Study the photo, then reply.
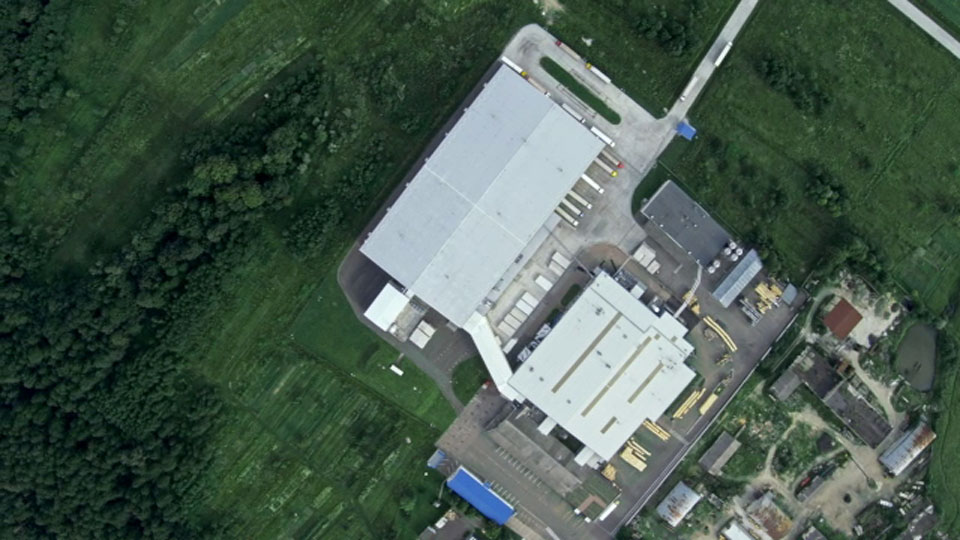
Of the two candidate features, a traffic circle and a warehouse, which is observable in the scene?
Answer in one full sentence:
There is a warehouse in the scene.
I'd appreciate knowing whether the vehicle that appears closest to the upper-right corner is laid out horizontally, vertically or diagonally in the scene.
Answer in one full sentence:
Seen from above, the vehicle that appears closest to the upper-right corner lies diagonally.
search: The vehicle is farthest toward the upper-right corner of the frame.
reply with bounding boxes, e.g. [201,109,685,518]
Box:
[713,41,734,67]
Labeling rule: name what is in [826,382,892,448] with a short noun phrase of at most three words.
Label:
shed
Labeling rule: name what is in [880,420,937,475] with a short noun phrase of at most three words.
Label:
barn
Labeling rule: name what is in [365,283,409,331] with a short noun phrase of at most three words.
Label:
building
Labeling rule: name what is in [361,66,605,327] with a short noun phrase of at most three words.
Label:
warehouse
